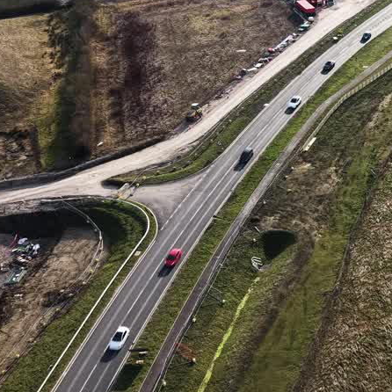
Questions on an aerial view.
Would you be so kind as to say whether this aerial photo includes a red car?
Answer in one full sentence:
Yes, looking at the shot, I can spot a red car.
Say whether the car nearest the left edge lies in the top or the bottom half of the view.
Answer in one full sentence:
Seen from above, the car nearest the left edge lies in the bottom half of the view.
